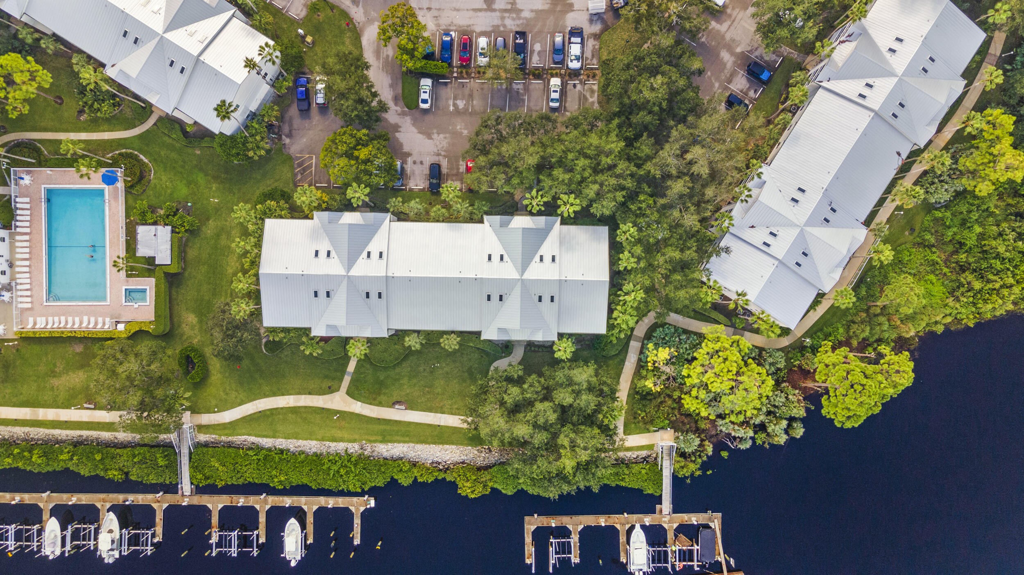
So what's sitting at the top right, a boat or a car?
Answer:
car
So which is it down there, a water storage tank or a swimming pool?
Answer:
swimming pool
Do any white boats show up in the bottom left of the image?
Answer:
Yes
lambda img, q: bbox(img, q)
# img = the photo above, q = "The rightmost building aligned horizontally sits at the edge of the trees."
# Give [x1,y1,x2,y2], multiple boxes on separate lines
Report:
[259,197,611,356]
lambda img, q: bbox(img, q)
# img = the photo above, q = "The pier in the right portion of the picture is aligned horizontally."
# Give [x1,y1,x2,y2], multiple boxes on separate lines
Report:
[525,513,722,564]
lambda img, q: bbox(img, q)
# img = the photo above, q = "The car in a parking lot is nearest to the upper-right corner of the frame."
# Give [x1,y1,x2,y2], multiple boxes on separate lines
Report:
[743,60,772,84]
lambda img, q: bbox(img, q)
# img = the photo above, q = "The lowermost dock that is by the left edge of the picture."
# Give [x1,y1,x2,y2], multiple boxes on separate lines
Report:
[0,494,374,544]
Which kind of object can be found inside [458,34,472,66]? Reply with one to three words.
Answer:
car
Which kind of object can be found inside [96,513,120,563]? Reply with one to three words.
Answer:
boat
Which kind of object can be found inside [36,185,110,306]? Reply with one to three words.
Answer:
swimming pool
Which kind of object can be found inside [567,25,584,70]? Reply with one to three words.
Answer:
vehicle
